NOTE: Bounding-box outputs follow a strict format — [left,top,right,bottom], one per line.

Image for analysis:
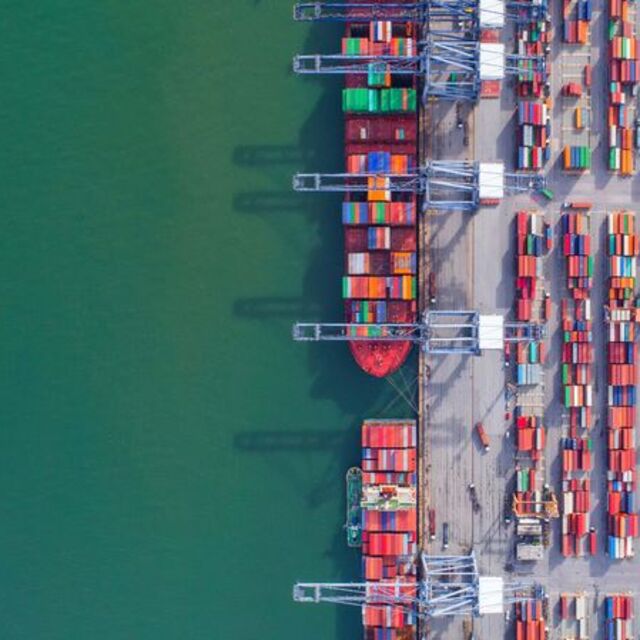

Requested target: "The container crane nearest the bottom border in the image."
[292,543,546,617]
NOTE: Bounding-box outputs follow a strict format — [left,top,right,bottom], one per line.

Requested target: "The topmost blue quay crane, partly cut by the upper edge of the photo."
[292,0,546,65]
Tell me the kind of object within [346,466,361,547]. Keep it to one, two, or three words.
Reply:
ship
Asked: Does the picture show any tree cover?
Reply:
No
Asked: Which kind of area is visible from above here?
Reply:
port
